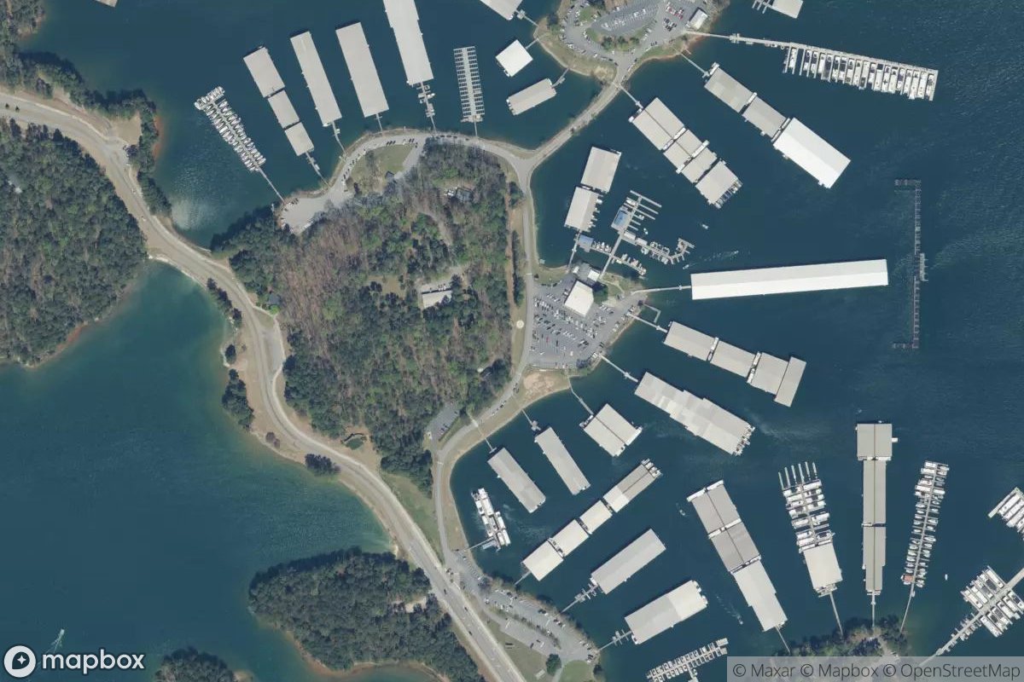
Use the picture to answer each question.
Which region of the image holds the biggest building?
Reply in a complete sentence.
Look in the center portion of the view to spot the biggest building.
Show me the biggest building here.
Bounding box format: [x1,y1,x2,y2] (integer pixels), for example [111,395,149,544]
[565,281,594,316]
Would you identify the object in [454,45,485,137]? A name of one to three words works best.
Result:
pier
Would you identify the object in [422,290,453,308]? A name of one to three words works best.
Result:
building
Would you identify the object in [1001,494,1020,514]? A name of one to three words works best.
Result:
boat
